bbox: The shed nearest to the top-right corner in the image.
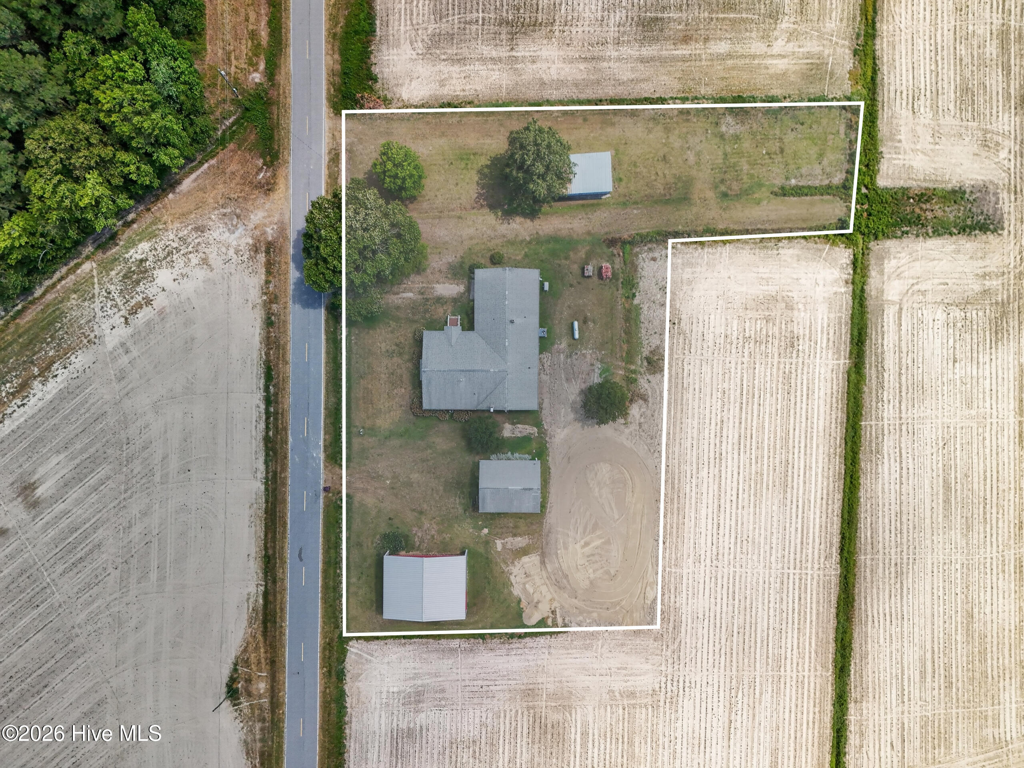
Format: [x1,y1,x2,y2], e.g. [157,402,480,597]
[556,151,613,200]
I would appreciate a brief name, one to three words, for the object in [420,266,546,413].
house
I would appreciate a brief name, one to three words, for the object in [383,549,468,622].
barn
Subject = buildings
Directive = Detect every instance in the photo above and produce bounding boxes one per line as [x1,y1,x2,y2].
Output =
[383,549,468,622]
[478,459,541,513]
[556,151,613,200]
[420,266,546,413]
